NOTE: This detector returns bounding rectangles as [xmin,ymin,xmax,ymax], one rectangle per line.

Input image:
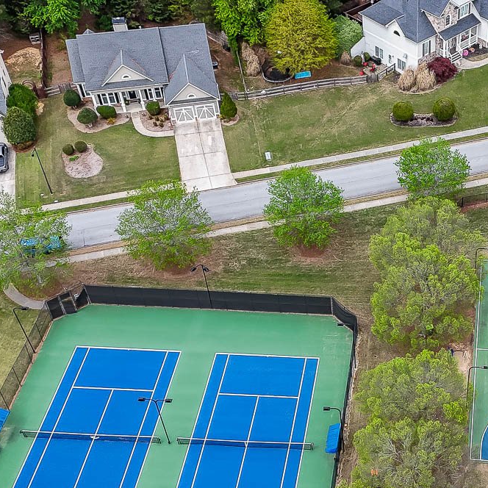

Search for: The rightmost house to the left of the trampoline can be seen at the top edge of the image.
[61,13,222,125]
